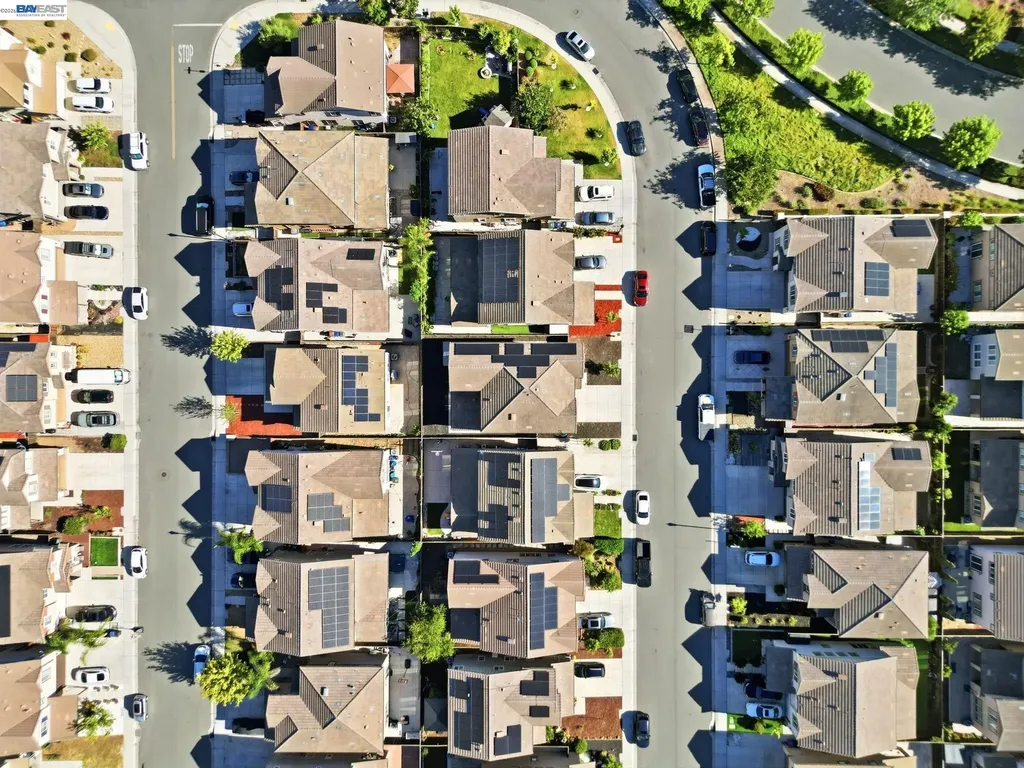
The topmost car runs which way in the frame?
diagonally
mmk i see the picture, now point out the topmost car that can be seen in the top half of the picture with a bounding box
[564,31,595,63]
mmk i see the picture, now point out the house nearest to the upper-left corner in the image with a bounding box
[0,44,66,119]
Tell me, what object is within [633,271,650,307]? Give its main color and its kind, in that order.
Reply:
red car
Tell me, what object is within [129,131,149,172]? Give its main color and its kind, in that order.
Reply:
white vehicle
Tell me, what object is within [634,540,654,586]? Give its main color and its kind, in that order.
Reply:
black vehicle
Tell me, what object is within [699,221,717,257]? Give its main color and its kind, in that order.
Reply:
black car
